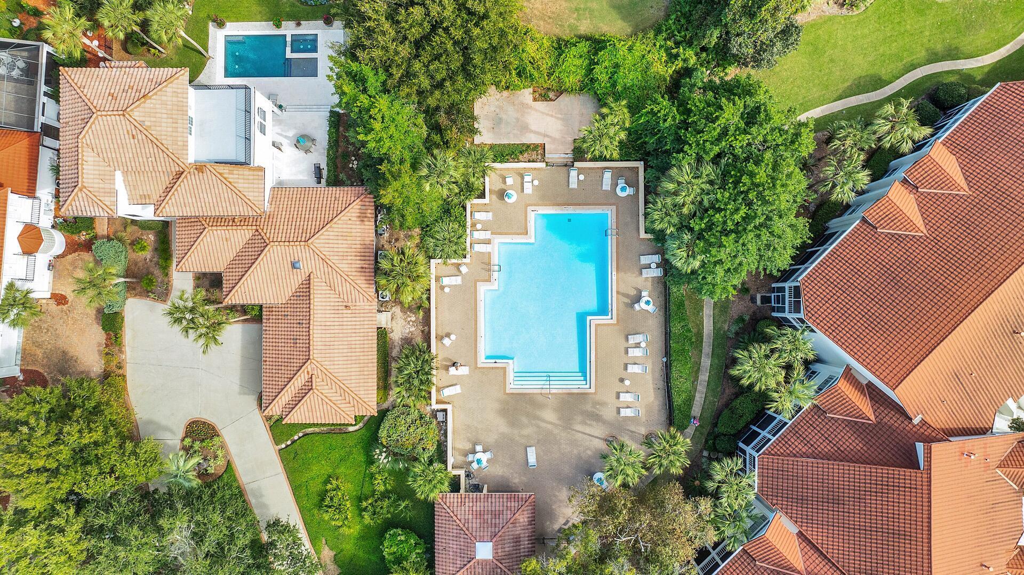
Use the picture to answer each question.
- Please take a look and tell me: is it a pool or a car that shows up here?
pool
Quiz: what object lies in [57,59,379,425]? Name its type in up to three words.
house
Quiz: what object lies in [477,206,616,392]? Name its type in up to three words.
swimming pool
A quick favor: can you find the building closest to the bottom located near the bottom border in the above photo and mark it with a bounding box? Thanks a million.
[434,489,536,575]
